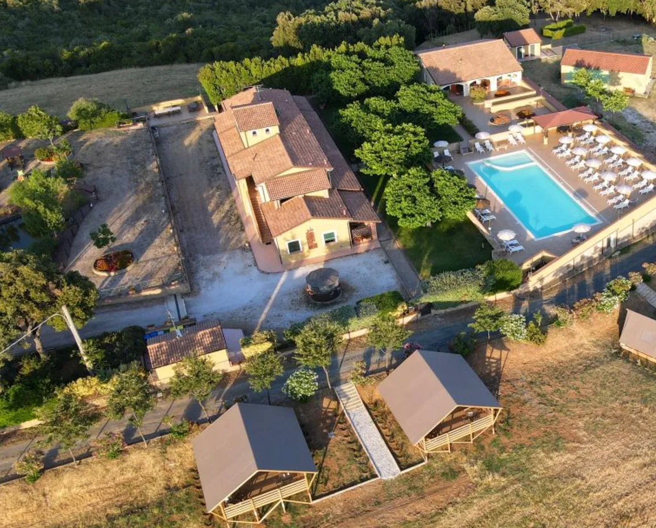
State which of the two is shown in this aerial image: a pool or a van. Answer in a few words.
pool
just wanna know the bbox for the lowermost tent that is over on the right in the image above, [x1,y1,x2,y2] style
[382,345,511,464]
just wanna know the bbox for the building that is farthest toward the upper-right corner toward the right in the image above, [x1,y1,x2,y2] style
[560,47,653,99]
